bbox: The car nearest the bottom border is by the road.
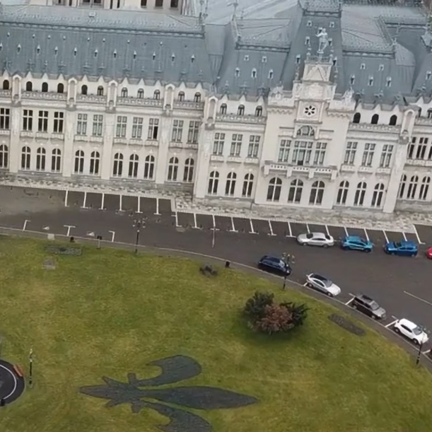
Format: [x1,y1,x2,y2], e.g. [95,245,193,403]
[393,320,431,345]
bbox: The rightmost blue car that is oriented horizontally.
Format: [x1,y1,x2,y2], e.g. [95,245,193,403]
[384,241,421,259]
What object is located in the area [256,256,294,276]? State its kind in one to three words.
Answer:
car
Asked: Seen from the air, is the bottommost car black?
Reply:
No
